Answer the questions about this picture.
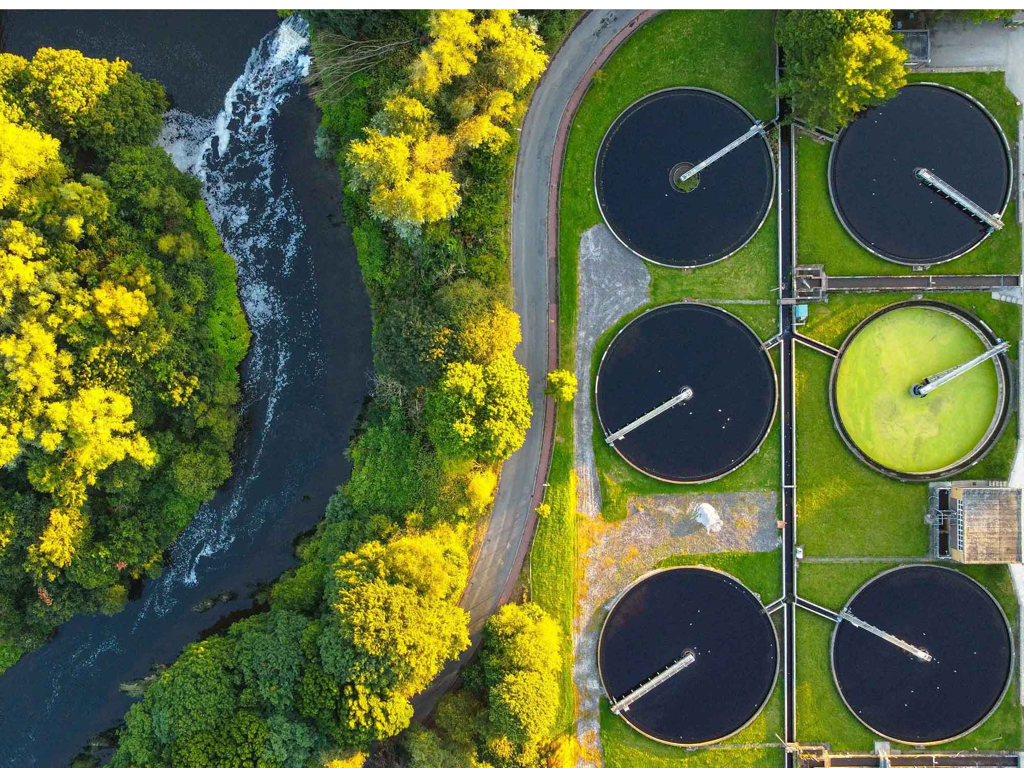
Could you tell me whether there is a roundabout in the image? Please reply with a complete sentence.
No, I can see no roundabout in this picture.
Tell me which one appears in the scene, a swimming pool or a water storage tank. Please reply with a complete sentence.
This aerial view contains a water storage tank.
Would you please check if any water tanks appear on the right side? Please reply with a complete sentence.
Yes, looking on the right side, one can make out a water tank.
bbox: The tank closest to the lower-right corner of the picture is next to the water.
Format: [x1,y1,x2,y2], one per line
[830,563,1014,747]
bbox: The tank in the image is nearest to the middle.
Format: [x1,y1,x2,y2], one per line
[595,301,778,483]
